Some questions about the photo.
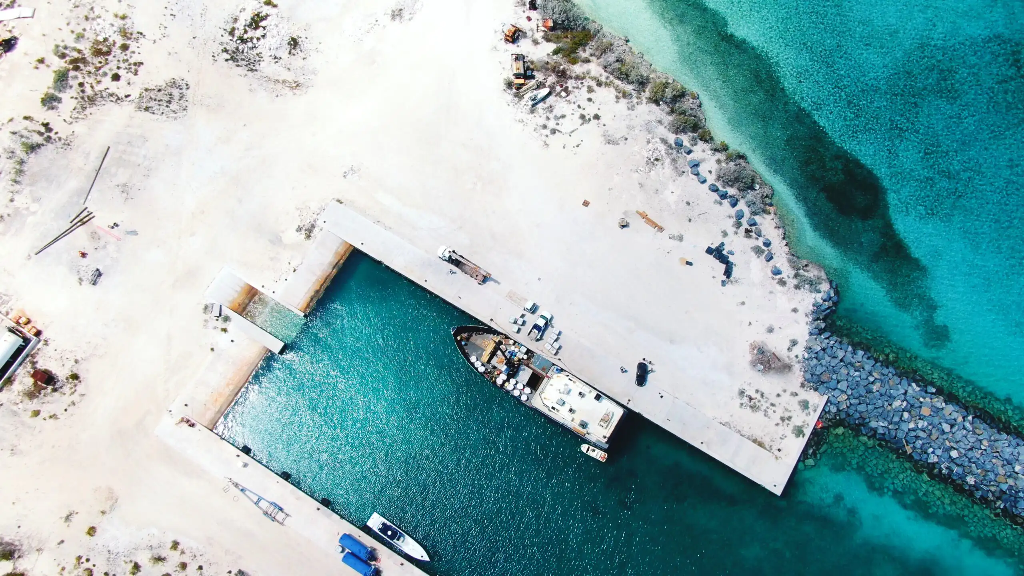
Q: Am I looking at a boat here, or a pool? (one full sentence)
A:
Of the two, only a boat appears.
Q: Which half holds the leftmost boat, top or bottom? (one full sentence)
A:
It is in the bottom half that the leftmost boat appears.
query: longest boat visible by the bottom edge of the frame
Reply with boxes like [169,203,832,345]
[367,512,431,561]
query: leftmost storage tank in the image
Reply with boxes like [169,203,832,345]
[0,326,32,378]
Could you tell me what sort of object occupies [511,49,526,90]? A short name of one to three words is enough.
vehicle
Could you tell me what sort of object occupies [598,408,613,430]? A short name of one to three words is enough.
boat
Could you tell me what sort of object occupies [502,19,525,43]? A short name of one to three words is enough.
work vehicle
